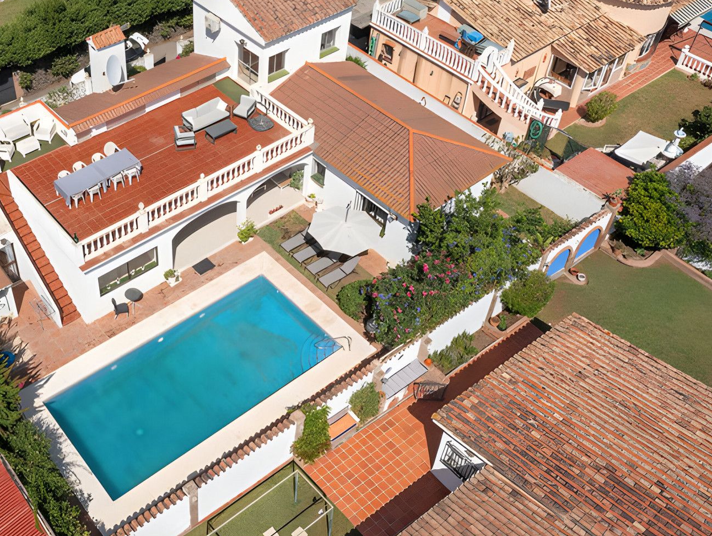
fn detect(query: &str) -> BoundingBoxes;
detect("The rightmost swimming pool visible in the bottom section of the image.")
[43,274,341,500]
